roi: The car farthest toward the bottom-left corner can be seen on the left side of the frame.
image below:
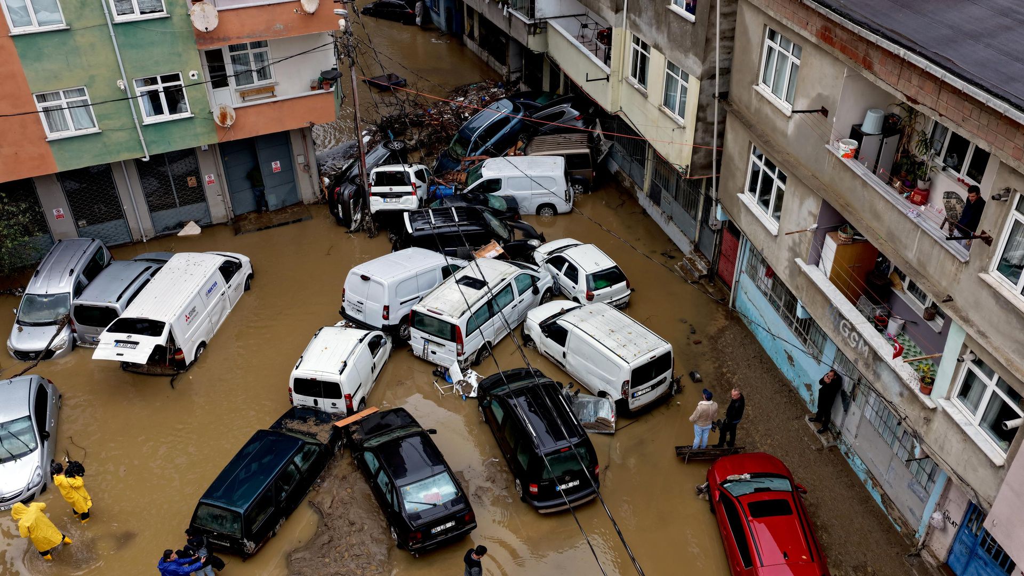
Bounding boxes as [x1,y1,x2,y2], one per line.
[0,375,60,508]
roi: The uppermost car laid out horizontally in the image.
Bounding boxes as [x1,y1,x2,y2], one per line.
[359,0,430,23]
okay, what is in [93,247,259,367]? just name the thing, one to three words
van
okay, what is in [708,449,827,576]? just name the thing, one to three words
car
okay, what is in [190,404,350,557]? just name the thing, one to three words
car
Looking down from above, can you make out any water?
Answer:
Yes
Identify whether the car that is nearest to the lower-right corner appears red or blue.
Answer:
red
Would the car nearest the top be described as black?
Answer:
Yes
